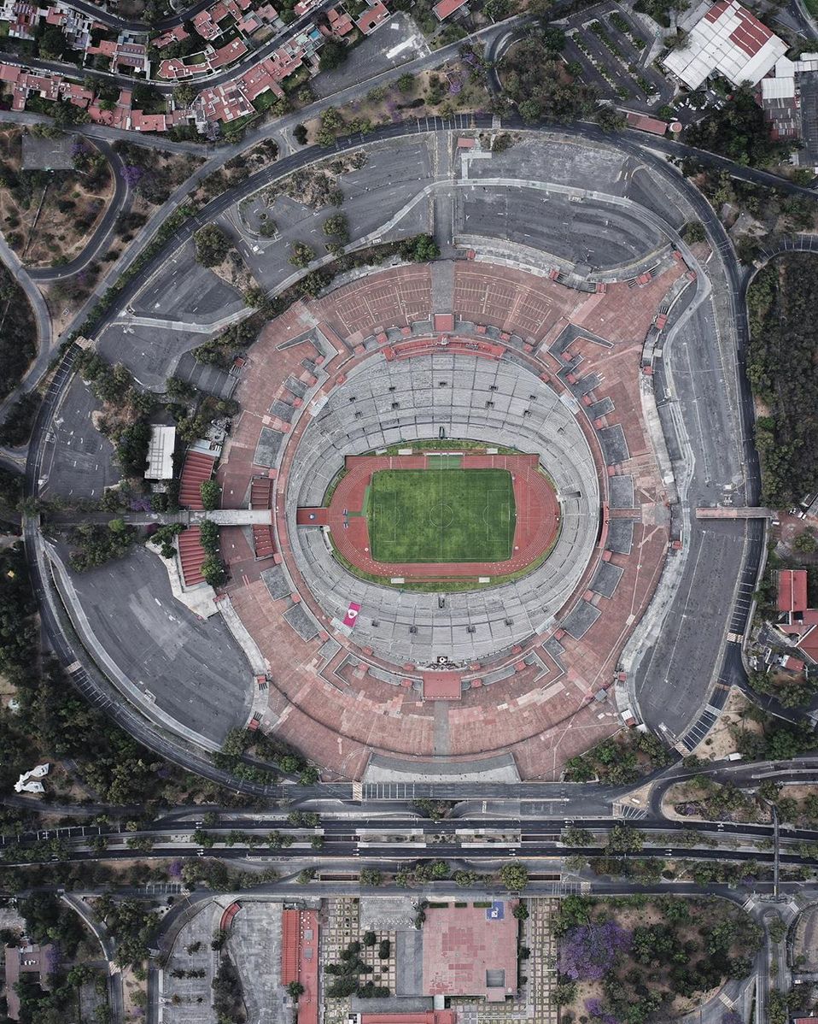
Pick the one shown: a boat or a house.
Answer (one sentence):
I can see a house in this picture.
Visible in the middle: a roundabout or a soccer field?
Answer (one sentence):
Visible in the middle is a soccer field.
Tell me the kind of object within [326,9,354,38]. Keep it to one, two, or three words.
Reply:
house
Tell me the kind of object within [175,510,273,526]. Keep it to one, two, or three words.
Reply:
bridge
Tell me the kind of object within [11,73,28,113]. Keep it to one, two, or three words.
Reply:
house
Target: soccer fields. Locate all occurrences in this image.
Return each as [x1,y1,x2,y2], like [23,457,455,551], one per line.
[366,469,517,563]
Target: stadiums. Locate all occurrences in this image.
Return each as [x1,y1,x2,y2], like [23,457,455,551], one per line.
[175,258,691,782]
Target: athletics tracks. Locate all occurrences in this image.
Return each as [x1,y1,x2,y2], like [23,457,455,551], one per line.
[329,450,561,581]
